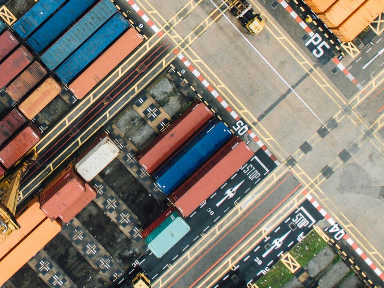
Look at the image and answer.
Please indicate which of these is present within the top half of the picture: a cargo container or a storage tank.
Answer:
cargo container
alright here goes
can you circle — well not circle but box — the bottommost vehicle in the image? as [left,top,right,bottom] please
[119,268,158,288]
